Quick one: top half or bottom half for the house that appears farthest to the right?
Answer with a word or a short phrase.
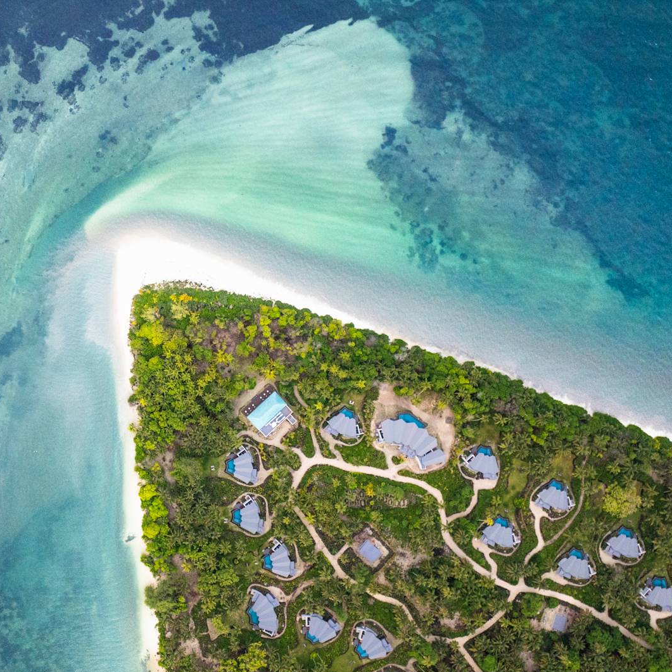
bottom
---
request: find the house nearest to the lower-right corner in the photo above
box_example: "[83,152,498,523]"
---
[639,575,672,610]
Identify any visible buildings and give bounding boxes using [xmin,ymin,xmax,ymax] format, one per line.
[360,540,381,560]
[554,545,596,578]
[604,525,647,558]
[481,514,522,547]
[535,476,576,511]
[552,614,569,632]
[639,575,672,610]
[224,445,258,483]
[463,443,500,478]
[241,386,297,437]
[350,628,391,660]
[376,411,446,469]
[260,540,294,578]
[327,404,367,437]
[247,589,284,636]
[230,496,265,534]
[299,613,340,646]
